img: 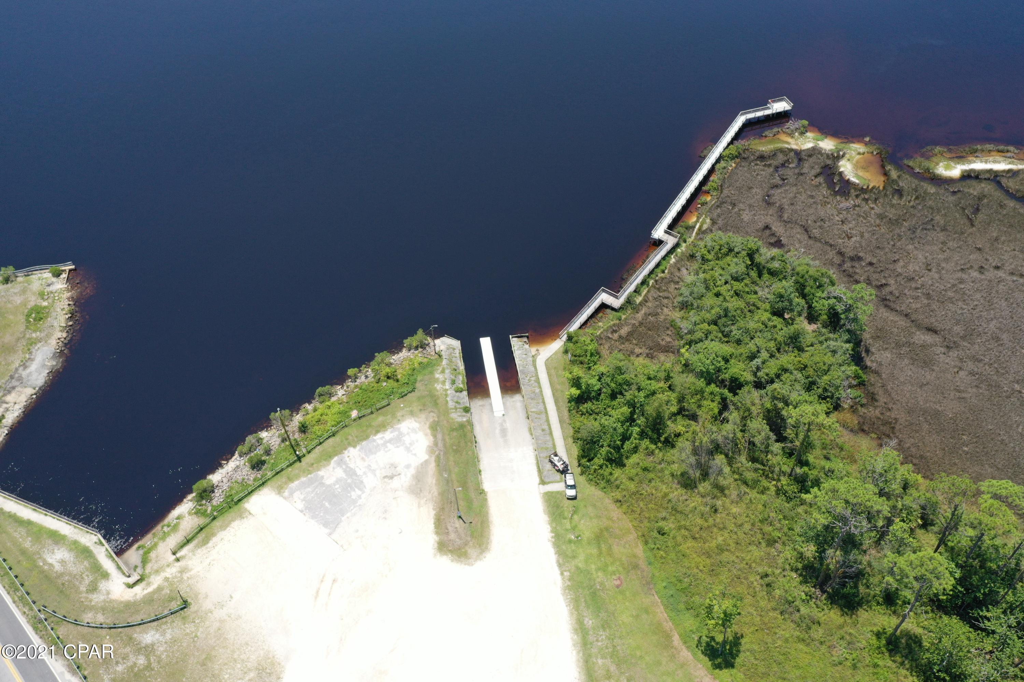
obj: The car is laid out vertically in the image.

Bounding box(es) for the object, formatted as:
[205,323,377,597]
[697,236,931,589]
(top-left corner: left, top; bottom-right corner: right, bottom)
[563,473,577,501]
